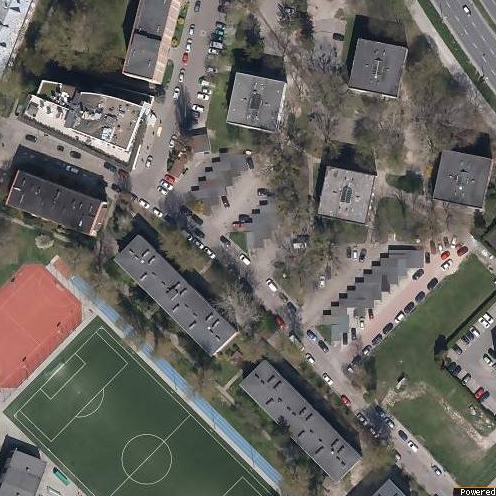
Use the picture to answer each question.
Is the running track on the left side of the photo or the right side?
left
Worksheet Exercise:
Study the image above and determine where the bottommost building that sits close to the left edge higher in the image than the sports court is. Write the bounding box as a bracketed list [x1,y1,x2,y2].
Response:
[8,170,109,237]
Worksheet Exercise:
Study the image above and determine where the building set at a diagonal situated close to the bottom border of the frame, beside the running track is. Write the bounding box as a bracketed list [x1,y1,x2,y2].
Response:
[241,360,362,481]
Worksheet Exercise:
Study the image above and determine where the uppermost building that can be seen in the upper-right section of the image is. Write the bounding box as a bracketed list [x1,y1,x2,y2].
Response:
[349,39,409,98]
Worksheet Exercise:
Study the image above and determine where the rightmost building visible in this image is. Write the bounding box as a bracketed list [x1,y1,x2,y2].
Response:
[433,151,493,209]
